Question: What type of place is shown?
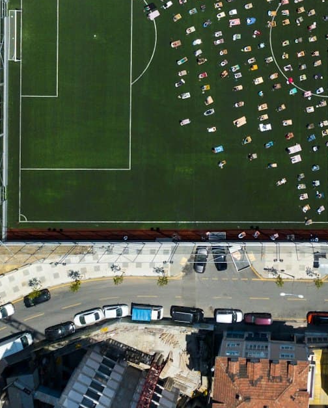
sports ground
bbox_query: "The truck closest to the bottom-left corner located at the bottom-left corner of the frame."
[0,330,37,362]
